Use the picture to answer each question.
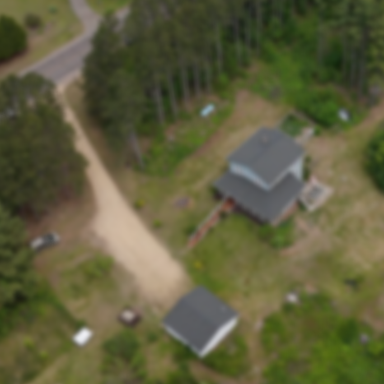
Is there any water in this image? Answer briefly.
No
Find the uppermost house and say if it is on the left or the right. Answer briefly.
right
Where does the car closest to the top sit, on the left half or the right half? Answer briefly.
left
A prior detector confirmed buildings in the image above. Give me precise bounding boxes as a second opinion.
[212,126,307,230]
[162,287,239,359]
